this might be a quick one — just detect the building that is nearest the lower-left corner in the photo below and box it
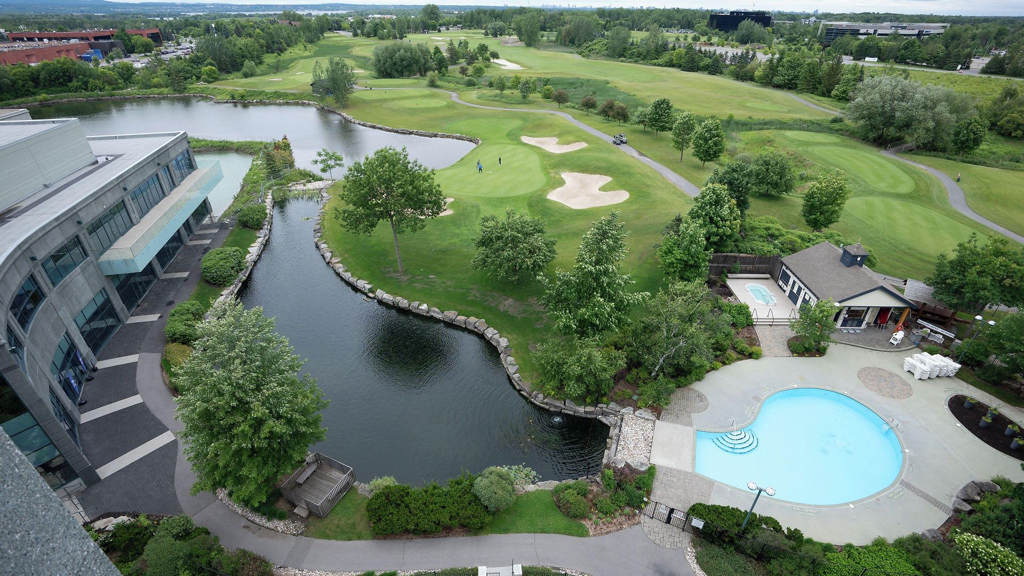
[0,108,223,502]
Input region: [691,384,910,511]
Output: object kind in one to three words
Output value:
swimming pool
